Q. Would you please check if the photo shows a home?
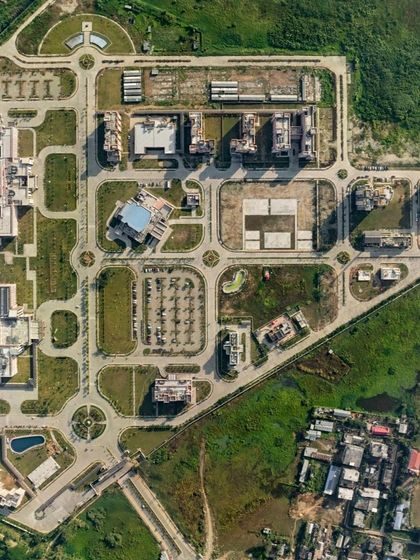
Yes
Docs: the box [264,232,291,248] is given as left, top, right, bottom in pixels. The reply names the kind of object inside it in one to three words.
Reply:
sports court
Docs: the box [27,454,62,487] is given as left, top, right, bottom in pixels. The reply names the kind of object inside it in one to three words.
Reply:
building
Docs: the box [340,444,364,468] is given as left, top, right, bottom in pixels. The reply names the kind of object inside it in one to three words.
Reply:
house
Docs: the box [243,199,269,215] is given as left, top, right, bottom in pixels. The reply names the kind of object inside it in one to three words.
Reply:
sports court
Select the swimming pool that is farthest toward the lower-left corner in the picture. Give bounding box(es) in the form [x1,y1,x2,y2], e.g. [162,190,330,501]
[10,436,45,452]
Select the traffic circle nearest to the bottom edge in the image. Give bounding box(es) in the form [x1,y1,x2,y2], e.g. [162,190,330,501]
[71,405,106,440]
